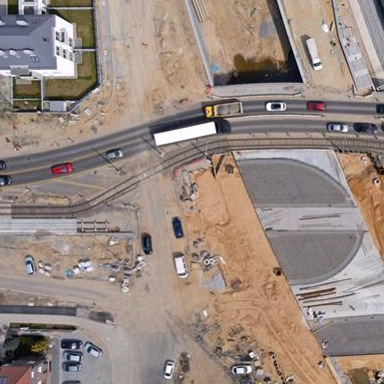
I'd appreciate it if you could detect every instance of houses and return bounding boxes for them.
[0,15,82,81]
[0,360,51,384]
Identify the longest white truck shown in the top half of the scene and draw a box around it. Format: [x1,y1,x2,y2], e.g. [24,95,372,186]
[155,116,238,145]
